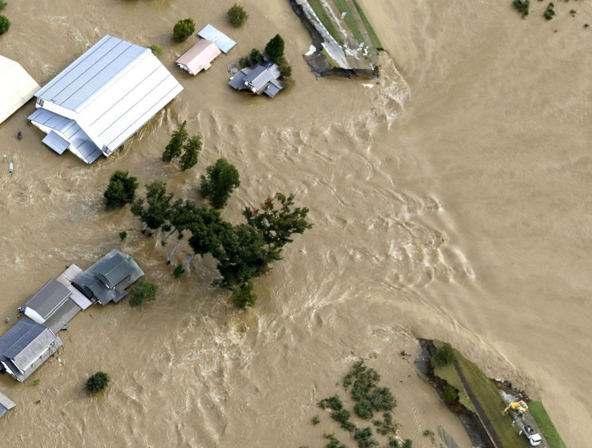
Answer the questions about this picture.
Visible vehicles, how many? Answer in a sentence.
The count of vehicles comes to 2.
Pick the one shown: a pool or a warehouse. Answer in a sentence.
It is a warehouse that can be seen here.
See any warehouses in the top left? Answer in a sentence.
Yes, the scene does show a warehouse in the top left.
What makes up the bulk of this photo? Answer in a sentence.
Most of the picture is covered by water.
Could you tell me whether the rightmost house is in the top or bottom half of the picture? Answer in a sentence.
The rightmost house is in the top half of the image.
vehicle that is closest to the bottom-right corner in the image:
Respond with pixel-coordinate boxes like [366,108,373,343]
[523,422,543,445]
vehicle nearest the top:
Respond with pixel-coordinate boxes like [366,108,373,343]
[499,399,537,422]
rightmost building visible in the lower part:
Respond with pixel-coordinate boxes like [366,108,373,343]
[76,249,145,306]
